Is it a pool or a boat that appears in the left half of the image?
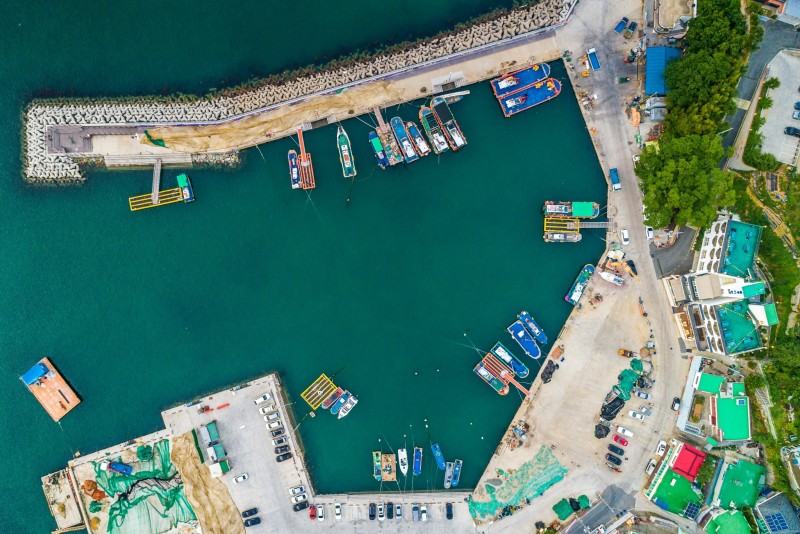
boat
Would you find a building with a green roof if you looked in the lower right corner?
Yes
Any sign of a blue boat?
Yes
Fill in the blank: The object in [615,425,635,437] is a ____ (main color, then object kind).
white vehicle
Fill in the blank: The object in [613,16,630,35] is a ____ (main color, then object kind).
blue vehicle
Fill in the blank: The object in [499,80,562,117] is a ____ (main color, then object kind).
blue ship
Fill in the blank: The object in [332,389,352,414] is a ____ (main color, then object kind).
blue boat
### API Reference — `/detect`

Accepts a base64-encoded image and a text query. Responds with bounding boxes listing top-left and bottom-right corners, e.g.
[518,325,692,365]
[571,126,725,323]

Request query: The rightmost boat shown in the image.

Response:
[602,273,629,286]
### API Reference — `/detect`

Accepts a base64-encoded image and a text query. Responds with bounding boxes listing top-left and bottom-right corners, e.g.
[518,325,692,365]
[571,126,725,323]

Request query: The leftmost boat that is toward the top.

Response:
[177,171,198,204]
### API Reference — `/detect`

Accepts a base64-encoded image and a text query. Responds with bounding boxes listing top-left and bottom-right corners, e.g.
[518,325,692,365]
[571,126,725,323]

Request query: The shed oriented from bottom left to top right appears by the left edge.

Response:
[17,361,48,389]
